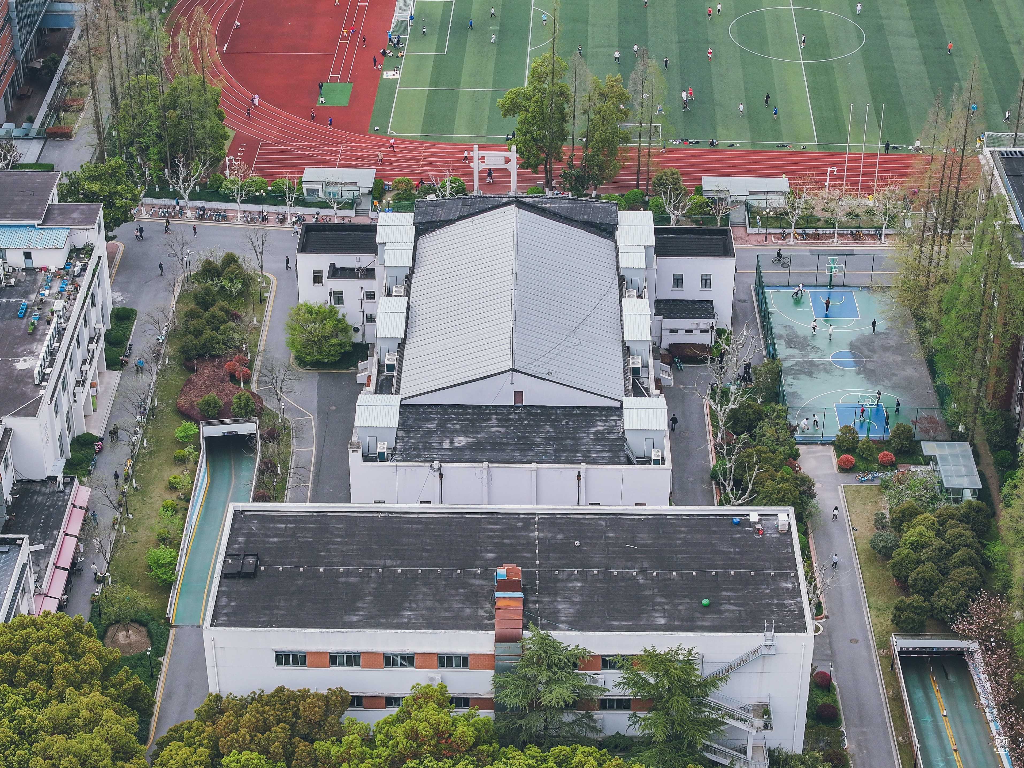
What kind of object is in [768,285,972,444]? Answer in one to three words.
sports court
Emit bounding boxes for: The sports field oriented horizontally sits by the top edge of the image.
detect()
[127,0,995,228]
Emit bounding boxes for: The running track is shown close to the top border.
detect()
[152,0,984,196]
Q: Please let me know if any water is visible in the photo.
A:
No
